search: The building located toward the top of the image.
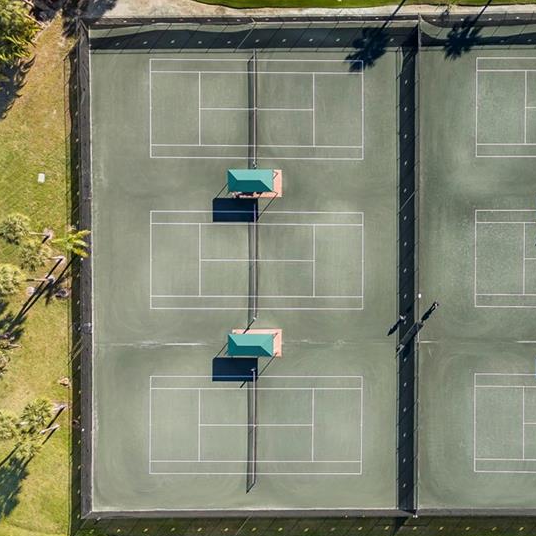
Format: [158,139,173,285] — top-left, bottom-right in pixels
[228,169,282,197]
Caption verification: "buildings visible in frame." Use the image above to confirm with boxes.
[228,329,282,357]
[228,169,282,197]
